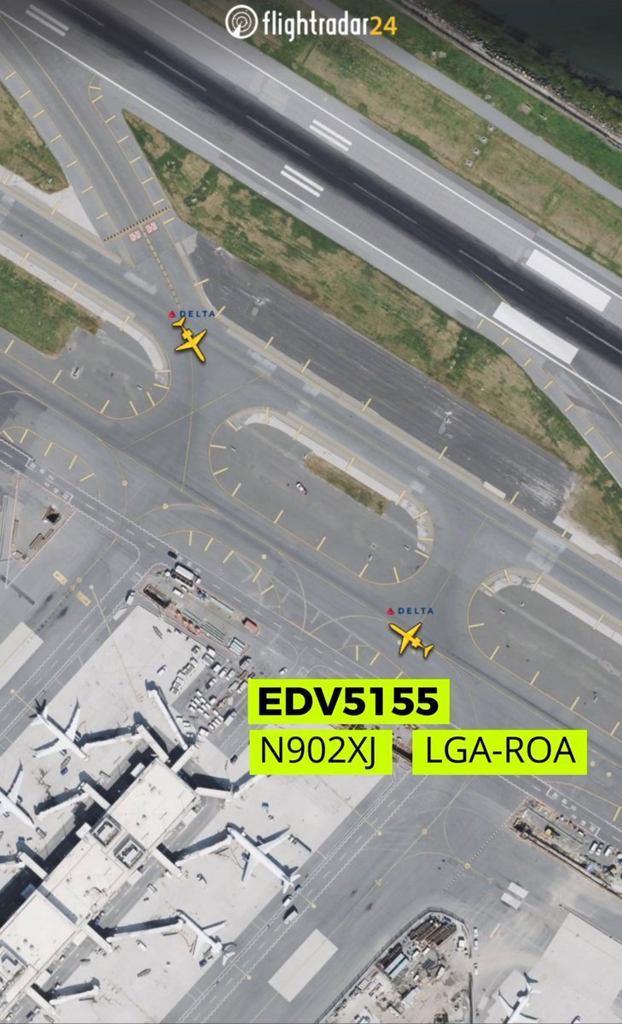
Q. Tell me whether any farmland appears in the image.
No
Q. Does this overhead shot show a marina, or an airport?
airport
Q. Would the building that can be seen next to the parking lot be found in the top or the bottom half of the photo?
bottom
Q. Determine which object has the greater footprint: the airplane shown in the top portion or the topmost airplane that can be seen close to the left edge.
the topmost airplane that can be seen close to the left edge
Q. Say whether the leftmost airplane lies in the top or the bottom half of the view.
bottom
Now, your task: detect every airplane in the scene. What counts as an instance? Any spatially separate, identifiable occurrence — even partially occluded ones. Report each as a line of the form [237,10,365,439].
[180,915,235,966]
[0,772,34,826]
[31,704,87,759]
[172,317,207,362]
[228,828,301,894]
[390,622,434,657]
[494,981,538,1024]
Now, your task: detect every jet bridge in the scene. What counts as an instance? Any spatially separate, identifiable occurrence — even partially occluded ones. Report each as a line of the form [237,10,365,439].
[195,771,270,803]
[34,783,111,821]
[27,985,103,1015]
[83,918,183,953]
[153,834,236,876]
[0,852,46,878]
[81,726,170,762]
[148,686,198,772]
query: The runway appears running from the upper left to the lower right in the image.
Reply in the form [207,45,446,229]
[0,0,622,403]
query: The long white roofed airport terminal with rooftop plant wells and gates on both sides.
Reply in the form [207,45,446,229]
[0,757,201,1015]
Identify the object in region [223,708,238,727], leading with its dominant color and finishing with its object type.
white vehicle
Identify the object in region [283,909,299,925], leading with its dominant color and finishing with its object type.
white vehicle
